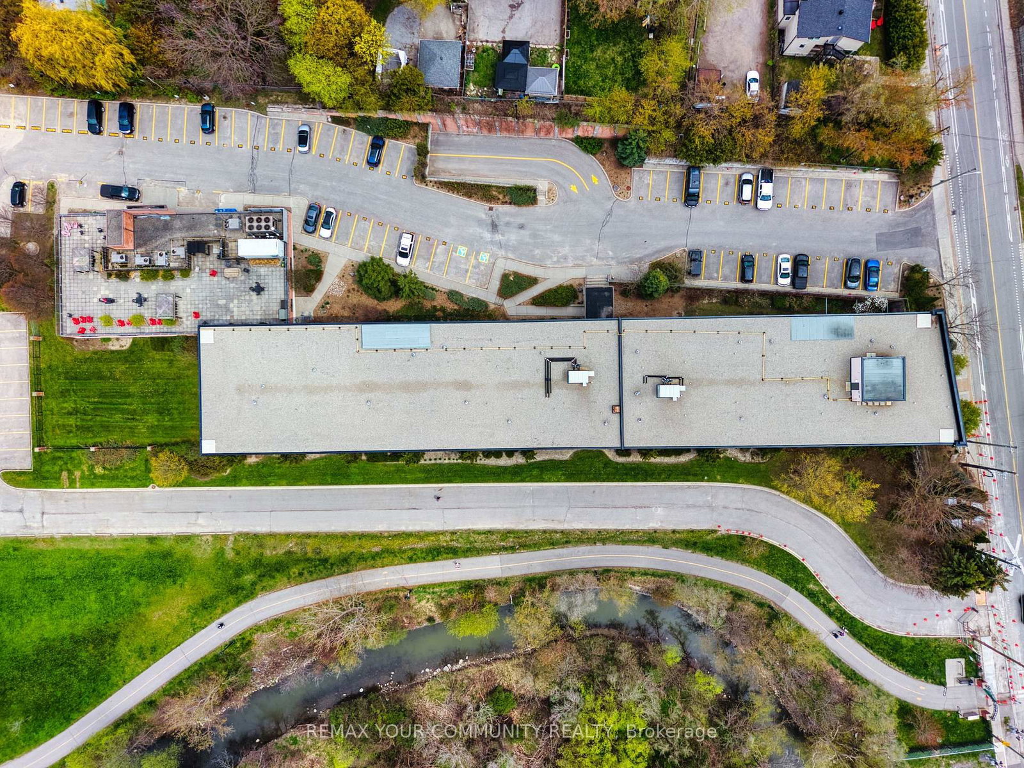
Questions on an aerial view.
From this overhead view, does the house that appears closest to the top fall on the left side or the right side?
right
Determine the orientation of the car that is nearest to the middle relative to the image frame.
up and down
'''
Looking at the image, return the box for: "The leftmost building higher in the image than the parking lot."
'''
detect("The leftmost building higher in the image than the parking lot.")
[419,40,462,95]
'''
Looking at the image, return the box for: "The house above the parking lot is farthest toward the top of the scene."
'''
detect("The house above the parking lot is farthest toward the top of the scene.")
[768,0,874,54]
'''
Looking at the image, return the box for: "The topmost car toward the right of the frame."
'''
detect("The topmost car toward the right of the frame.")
[745,70,762,104]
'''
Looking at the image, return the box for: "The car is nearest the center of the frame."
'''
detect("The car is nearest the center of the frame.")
[395,230,415,268]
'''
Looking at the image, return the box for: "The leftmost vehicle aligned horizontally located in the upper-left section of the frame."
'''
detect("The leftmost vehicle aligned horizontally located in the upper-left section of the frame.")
[100,184,142,202]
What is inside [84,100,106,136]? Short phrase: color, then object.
black car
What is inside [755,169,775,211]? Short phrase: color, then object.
white vehicle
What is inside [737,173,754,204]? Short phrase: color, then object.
white car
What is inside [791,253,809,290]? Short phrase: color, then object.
black vehicle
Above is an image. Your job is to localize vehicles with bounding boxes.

[737,173,754,204]
[303,202,322,235]
[395,230,415,268]
[366,135,386,169]
[84,100,106,136]
[755,169,775,211]
[687,246,703,281]
[683,166,702,207]
[745,70,762,104]
[199,103,217,136]
[791,253,809,290]
[843,257,861,289]
[9,179,28,210]
[116,101,136,136]
[775,254,792,287]
[319,206,338,240]
[296,123,312,156]
[739,252,756,285]
[100,184,142,202]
